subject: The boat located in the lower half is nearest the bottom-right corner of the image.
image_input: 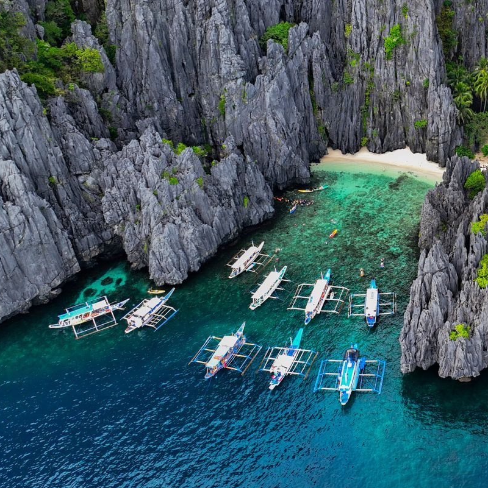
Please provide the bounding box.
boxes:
[313,342,386,406]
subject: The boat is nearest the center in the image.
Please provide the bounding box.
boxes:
[226,241,275,280]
